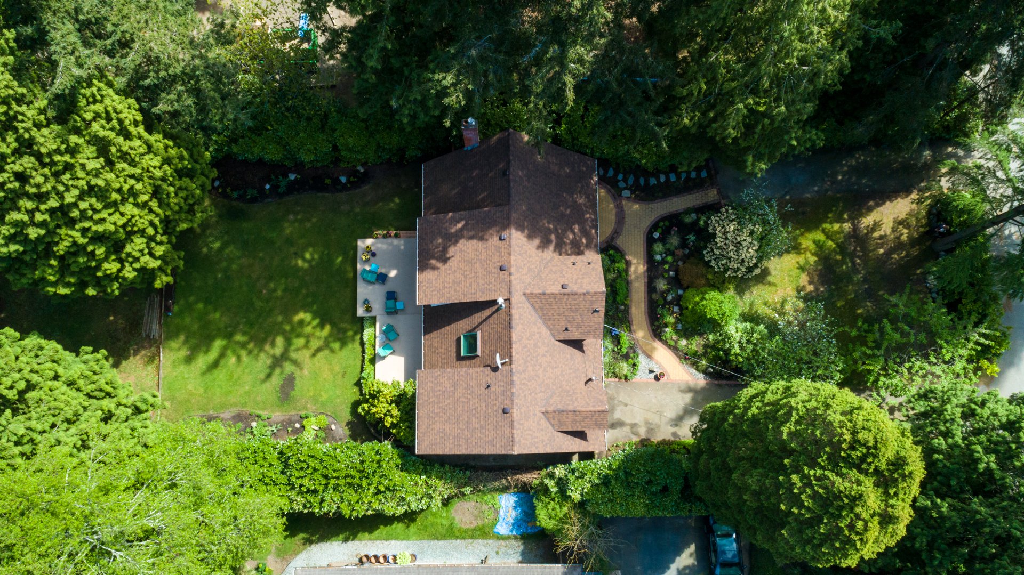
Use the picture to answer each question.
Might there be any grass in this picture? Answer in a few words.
Yes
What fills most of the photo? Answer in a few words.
trees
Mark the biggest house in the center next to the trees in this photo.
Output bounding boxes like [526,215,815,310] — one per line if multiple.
[413,113,608,454]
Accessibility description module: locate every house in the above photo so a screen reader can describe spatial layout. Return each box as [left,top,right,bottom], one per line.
[294,562,582,575]
[413,113,608,454]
